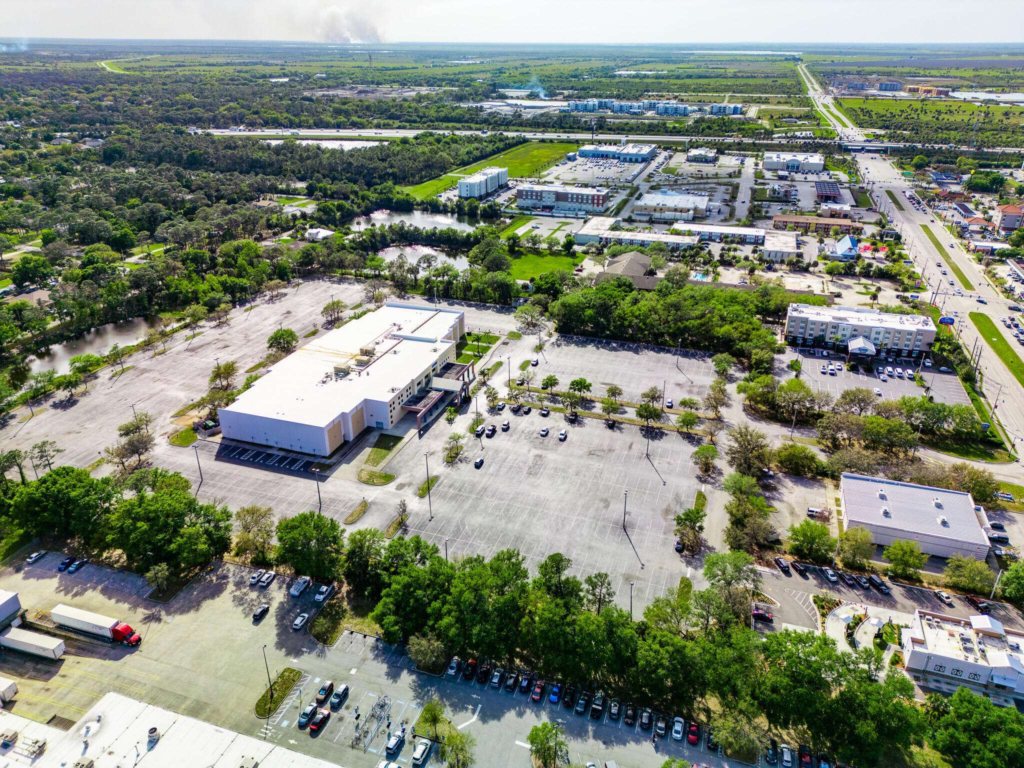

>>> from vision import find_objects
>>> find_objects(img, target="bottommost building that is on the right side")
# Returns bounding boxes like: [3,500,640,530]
[882,603,1024,692]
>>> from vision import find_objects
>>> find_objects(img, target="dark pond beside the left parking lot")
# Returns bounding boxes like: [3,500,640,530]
[23,315,184,380]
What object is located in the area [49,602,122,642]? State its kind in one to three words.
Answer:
trailer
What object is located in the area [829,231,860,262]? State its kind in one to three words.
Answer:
building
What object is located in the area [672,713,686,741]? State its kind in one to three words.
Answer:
car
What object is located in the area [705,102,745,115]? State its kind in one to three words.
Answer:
building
